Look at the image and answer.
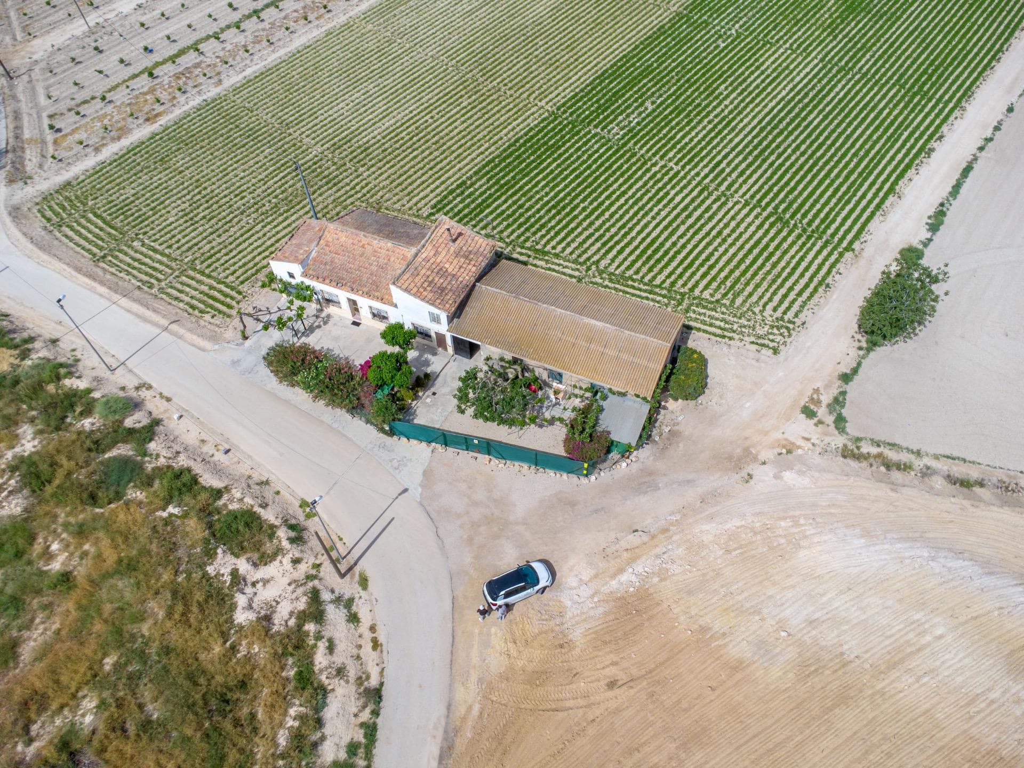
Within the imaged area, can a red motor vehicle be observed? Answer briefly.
No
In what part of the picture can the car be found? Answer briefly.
bottom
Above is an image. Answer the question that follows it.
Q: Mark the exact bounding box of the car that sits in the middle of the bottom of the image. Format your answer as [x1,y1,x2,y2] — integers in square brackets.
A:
[482,563,553,612]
